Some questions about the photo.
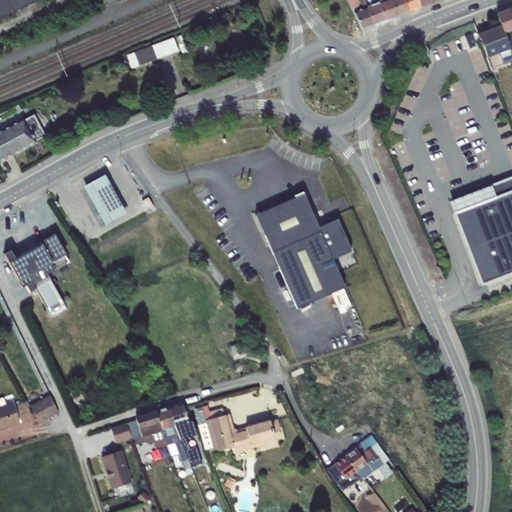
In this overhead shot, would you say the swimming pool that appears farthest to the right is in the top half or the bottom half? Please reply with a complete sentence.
You can find the swimming pool that appears farthest to the right in the bottom half.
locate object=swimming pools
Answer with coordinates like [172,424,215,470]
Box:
[210,503,220,512]
[230,457,258,512]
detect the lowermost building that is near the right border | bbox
[449,177,512,290]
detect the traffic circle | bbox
[280,40,376,133]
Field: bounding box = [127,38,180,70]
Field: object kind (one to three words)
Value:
shed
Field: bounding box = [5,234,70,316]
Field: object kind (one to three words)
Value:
house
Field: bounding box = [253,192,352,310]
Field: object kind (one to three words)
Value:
building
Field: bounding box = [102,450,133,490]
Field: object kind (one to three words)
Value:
house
